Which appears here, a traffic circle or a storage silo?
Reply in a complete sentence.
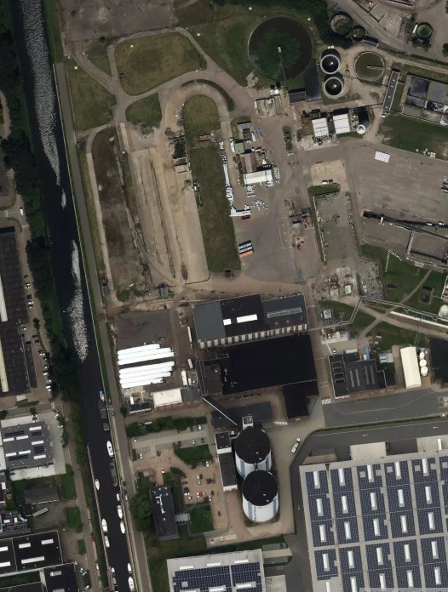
Visible in the photo is a storage silo.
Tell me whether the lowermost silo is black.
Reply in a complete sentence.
Yes, the lowermost silo is black.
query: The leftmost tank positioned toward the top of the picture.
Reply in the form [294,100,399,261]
[249,19,312,79]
